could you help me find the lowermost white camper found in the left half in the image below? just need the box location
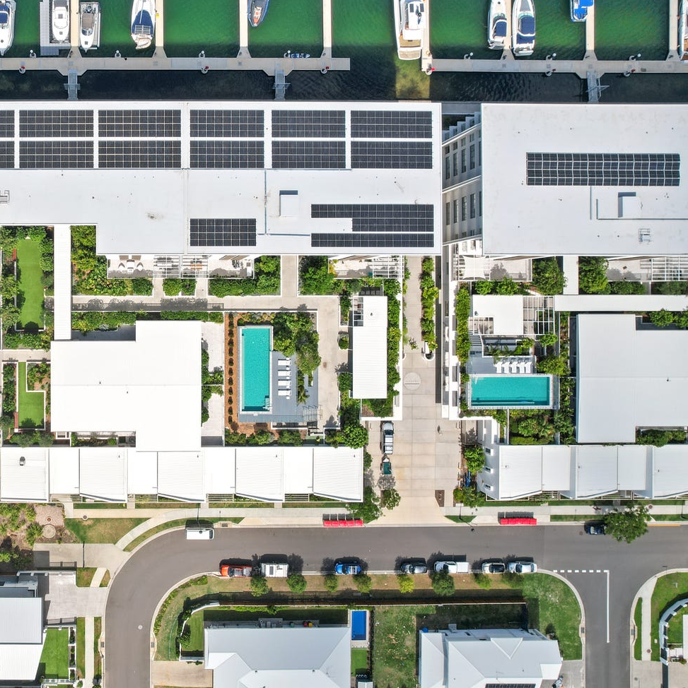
[255,561,289,580]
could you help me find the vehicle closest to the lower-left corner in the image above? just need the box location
[184,527,215,540]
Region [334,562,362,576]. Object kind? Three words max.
car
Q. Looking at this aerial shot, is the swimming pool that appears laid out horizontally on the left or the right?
right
